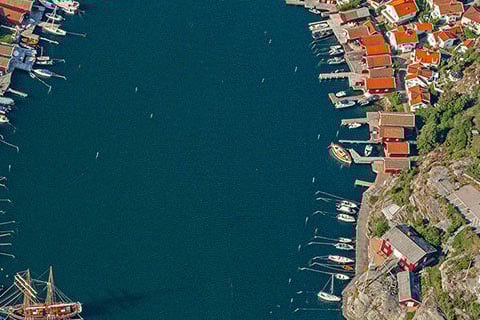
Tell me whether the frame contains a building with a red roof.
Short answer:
Yes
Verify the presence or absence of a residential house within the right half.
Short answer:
Yes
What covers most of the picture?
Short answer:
water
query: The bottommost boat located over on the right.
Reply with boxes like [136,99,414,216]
[319,279,341,300]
